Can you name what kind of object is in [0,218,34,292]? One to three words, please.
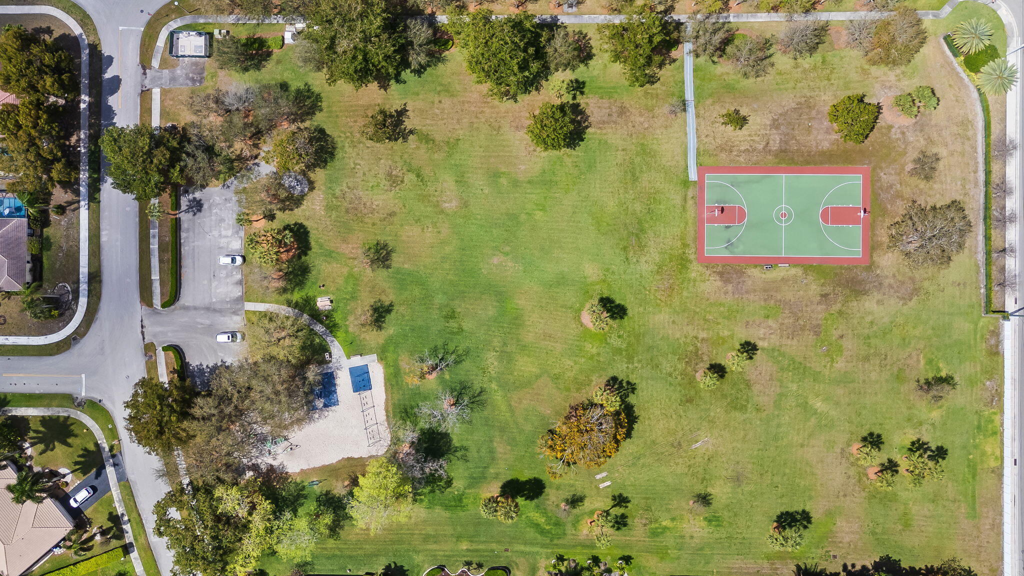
house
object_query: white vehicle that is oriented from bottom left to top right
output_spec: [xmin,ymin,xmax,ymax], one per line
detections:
[70,486,96,507]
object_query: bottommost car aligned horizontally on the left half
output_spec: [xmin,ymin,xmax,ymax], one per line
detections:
[215,332,243,344]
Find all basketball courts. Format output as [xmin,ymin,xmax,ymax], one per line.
[698,166,871,264]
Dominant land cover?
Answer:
grass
